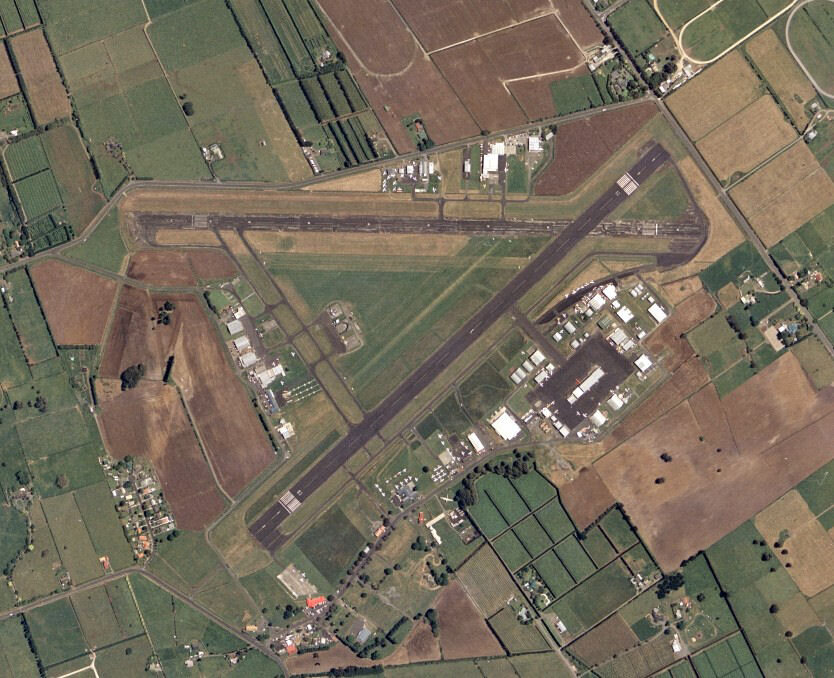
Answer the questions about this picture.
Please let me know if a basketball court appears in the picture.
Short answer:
No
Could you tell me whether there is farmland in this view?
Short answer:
Yes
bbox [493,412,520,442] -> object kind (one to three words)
hangar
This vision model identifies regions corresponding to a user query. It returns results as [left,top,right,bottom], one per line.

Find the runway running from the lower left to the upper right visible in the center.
[249,143,670,542]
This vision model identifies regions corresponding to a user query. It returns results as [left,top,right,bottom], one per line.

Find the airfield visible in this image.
[120,107,746,615]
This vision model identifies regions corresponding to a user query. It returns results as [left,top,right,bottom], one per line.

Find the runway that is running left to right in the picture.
[137,213,706,236]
